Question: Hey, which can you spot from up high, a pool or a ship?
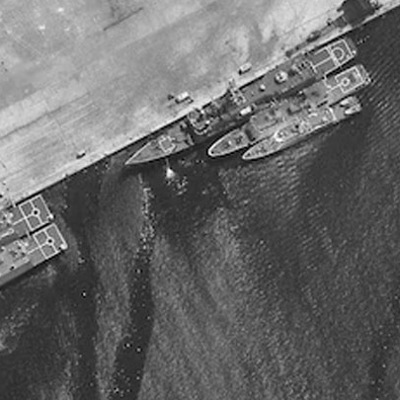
ship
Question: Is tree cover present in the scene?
No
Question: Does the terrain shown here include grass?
No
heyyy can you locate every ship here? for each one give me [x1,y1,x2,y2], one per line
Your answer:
[209,63,372,160]
[0,225,67,291]
[126,34,358,169]
[243,97,363,162]
[0,194,52,250]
